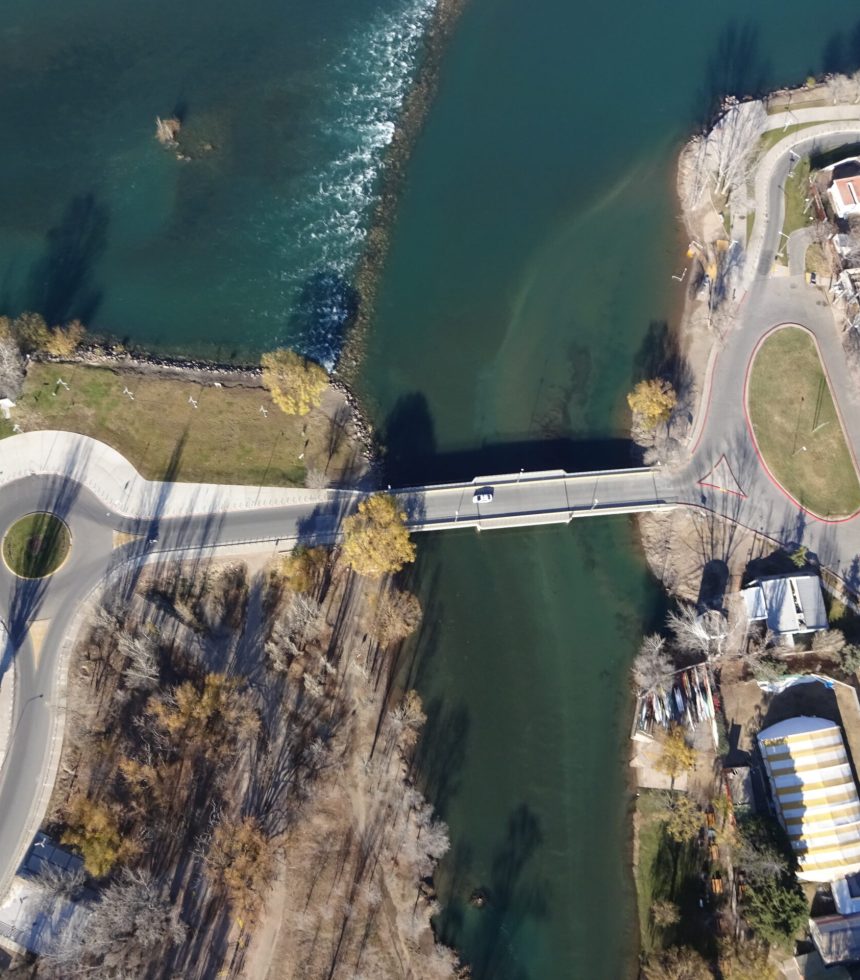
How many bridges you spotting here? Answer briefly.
one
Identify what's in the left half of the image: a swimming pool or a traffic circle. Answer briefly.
traffic circle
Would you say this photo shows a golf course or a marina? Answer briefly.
marina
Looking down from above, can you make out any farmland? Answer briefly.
No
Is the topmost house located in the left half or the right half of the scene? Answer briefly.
right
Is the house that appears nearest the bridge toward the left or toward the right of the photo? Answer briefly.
right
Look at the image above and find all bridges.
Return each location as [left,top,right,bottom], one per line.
[380,466,666,530]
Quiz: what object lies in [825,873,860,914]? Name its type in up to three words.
house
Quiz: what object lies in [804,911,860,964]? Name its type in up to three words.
house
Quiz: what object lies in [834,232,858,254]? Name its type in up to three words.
shed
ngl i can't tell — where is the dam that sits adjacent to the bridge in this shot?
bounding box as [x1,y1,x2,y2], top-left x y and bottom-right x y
[340,0,463,370]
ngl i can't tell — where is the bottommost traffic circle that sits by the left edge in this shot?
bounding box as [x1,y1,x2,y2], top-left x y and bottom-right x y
[0,477,107,615]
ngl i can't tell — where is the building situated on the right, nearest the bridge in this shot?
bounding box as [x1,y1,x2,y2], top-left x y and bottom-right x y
[738,576,829,635]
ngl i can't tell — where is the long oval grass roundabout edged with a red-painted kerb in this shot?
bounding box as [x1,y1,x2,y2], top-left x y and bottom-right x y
[747,323,860,522]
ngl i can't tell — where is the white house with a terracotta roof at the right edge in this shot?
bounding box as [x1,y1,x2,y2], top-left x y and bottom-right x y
[820,176,860,227]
